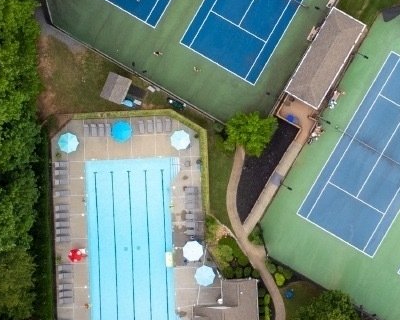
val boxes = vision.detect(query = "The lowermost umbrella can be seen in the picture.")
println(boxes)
[195,264,216,285]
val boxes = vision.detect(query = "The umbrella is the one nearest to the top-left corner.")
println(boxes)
[58,131,80,153]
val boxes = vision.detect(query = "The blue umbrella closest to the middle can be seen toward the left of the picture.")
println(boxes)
[111,119,134,142]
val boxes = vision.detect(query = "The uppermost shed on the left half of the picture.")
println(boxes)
[100,73,135,104]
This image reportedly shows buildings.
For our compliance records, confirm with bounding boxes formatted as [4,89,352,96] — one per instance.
[100,73,135,104]
[191,279,261,320]
[285,8,367,109]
